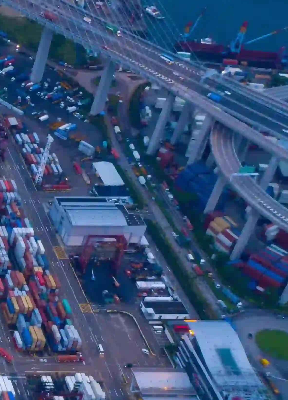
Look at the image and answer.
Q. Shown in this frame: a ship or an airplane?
ship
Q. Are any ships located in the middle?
No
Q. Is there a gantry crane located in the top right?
No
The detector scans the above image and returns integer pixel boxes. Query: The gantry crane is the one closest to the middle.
[72,221,127,259]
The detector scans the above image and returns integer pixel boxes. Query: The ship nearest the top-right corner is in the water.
[219,15,288,68]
